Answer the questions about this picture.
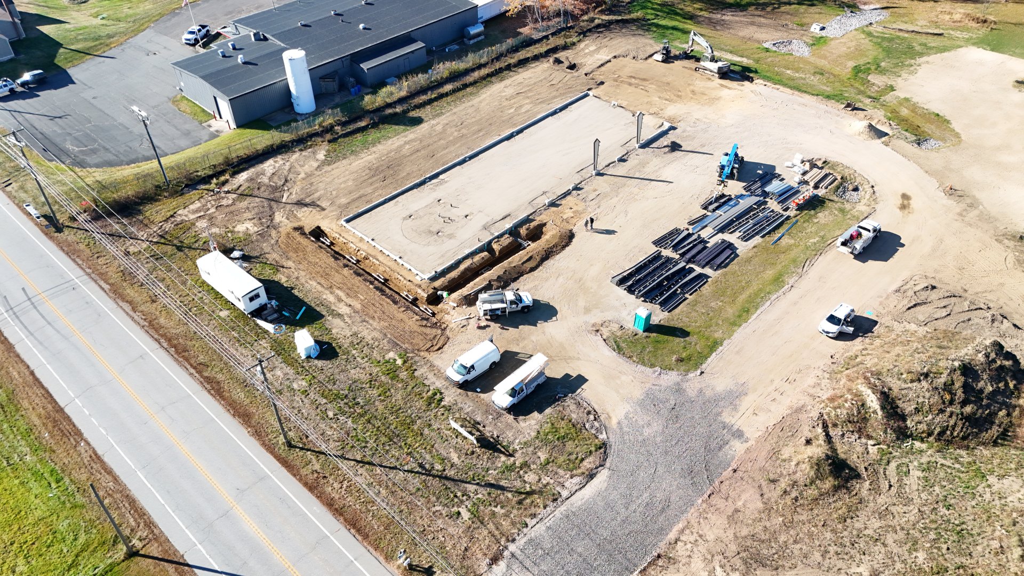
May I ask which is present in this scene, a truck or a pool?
truck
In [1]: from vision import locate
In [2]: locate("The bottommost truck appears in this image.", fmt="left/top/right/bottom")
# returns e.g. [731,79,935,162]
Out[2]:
[490,361,547,413]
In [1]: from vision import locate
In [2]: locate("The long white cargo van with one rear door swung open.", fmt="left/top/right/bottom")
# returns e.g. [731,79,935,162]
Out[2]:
[445,332,504,388]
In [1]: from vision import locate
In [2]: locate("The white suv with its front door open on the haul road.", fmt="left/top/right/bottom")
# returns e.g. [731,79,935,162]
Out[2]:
[821,299,859,337]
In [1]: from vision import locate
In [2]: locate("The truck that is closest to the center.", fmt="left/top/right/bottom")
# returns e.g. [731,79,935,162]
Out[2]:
[476,287,536,320]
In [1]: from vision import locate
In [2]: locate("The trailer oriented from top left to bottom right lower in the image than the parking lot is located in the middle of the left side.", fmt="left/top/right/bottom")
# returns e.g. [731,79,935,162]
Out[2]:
[196,251,269,317]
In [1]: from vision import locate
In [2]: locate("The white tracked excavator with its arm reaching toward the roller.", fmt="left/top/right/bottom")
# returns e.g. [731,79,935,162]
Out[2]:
[687,25,729,78]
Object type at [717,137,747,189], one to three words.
work vehicle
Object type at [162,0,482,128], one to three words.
warehouse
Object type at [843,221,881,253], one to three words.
truck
